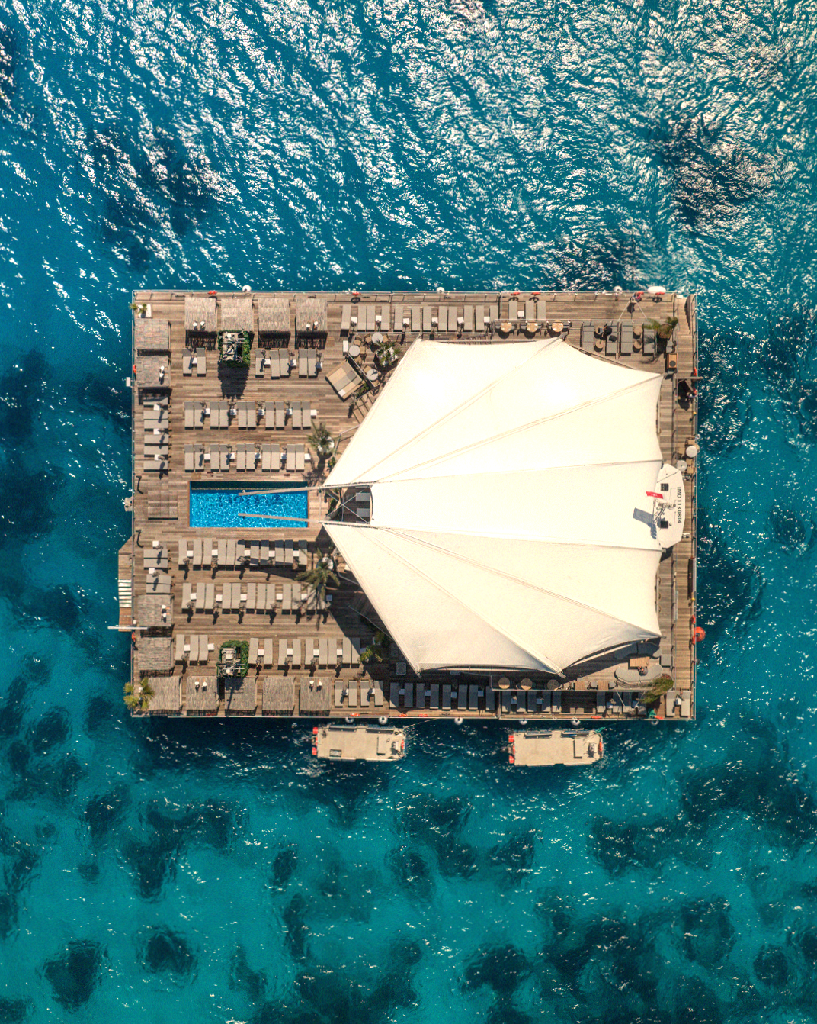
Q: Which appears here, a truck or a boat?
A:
boat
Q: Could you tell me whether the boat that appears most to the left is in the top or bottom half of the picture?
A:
bottom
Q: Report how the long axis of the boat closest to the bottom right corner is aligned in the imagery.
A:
from side to side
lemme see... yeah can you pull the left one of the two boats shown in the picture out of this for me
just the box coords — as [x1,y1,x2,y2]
[311,723,406,761]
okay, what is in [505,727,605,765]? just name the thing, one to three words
boat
